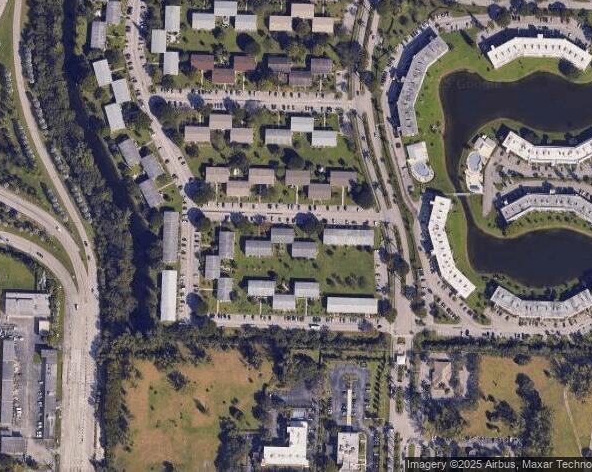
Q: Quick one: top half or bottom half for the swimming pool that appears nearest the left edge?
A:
top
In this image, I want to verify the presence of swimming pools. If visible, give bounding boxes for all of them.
[465,150,487,200]
[407,143,435,182]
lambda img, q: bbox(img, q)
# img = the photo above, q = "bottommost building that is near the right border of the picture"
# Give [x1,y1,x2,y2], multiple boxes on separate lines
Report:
[490,286,592,320]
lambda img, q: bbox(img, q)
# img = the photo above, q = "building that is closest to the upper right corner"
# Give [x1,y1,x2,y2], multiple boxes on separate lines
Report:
[487,34,592,71]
